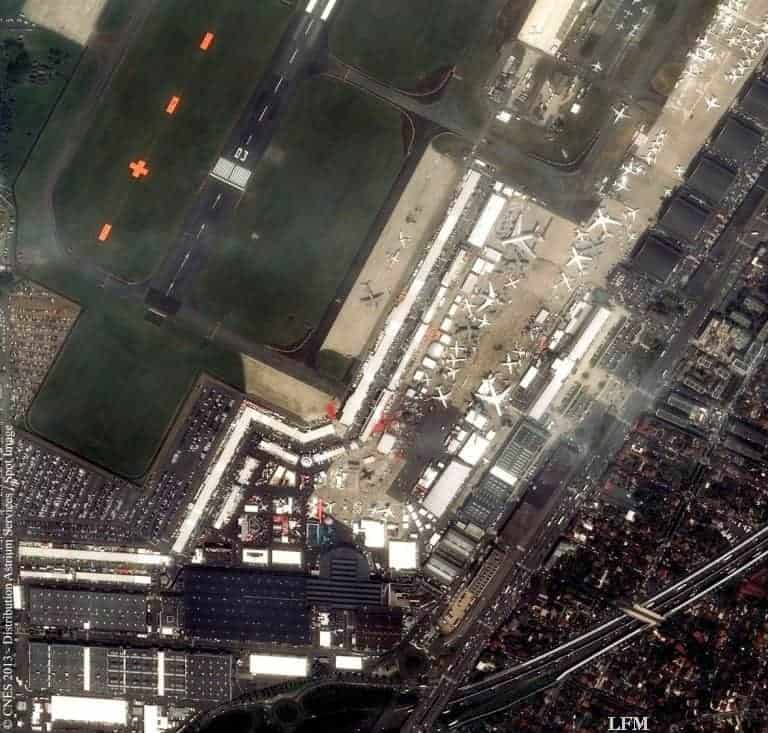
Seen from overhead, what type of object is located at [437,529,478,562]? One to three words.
building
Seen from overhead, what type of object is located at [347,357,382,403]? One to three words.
tent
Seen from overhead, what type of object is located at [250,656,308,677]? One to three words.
tent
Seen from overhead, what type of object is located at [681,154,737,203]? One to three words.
hangar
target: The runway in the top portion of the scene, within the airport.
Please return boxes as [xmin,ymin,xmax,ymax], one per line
[145,0,346,317]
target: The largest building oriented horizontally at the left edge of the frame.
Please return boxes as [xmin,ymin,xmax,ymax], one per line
[26,645,232,704]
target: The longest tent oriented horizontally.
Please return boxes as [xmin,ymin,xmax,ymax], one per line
[19,547,166,565]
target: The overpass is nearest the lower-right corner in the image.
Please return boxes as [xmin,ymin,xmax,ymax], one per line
[592,590,697,638]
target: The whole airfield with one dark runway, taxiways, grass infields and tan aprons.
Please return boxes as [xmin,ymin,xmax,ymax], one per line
[0,0,768,542]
